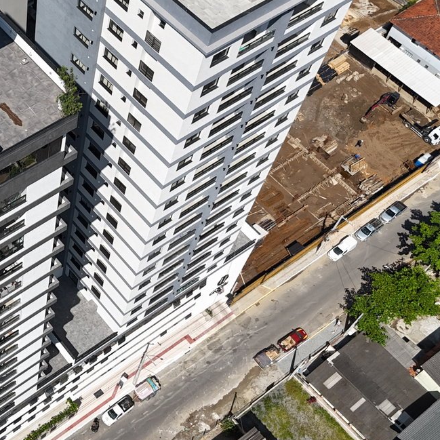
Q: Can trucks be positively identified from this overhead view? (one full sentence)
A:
Yes, a truck appears in the view.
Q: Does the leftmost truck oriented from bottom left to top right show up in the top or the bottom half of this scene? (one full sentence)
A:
You can find the leftmost truck oriented from bottom left to top right in the bottom half.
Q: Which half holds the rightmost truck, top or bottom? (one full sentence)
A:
The rightmost truck sits in the top half of the picture.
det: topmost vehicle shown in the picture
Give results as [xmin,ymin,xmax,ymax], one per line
[362,88,408,119]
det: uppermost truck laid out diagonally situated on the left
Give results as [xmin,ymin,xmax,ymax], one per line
[128,372,166,407]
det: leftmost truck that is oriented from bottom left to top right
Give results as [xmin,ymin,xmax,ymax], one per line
[100,391,136,429]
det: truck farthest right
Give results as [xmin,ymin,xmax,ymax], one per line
[395,107,440,145]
